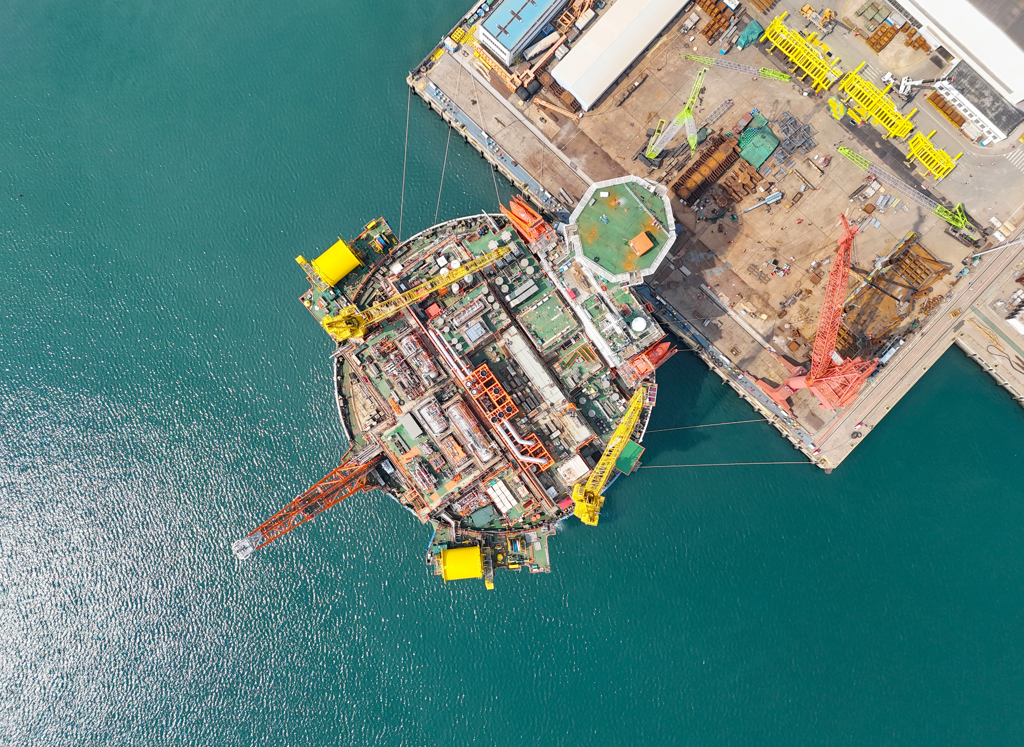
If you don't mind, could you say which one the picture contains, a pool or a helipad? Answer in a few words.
helipad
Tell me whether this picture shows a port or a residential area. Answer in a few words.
port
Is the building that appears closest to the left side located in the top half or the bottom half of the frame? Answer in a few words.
top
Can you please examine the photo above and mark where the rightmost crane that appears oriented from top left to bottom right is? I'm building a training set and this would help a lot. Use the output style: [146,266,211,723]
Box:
[837,145,1001,257]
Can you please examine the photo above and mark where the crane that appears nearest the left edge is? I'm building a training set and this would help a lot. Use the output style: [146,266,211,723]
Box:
[321,245,516,342]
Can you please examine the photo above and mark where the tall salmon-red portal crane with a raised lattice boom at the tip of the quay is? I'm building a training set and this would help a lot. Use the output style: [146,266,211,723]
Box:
[743,209,881,422]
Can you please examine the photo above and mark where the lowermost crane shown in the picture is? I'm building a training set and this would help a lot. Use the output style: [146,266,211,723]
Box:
[571,384,648,527]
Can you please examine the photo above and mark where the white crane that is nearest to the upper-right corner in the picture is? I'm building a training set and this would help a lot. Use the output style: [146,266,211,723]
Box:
[878,72,957,109]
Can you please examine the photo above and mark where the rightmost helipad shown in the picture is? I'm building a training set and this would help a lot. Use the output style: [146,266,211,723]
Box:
[563,174,677,285]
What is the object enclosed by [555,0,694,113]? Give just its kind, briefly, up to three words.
shed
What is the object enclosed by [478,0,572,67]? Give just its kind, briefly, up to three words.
building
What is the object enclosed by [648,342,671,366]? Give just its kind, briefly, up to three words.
boat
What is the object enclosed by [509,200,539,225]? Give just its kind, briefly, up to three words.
boat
